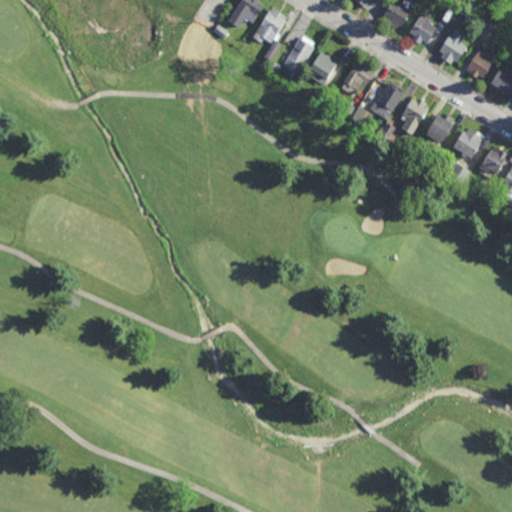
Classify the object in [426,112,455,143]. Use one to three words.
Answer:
house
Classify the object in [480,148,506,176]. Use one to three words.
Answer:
house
